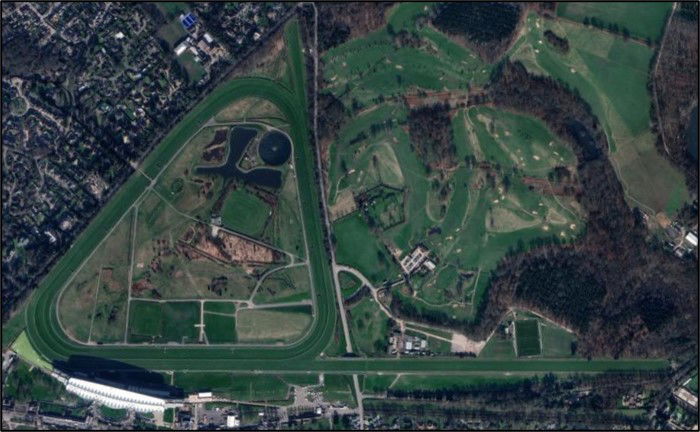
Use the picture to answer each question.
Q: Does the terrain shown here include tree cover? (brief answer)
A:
Yes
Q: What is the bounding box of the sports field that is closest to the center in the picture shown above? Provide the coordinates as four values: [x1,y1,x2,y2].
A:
[220,189,271,236]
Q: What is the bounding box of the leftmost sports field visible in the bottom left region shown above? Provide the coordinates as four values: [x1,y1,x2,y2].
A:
[128,301,199,343]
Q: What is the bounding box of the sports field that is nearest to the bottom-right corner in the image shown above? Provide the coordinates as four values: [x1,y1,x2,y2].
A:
[517,320,542,356]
